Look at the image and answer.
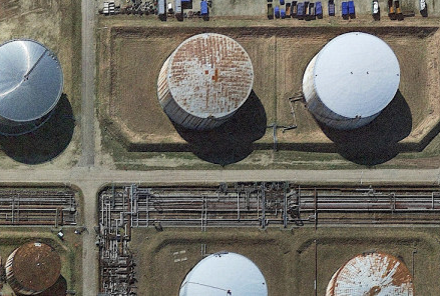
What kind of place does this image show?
industrial area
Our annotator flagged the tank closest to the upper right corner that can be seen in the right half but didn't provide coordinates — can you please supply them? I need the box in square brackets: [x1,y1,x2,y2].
[301,31,401,131]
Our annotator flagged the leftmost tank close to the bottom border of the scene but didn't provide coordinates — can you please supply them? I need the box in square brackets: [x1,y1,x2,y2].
[5,242,62,296]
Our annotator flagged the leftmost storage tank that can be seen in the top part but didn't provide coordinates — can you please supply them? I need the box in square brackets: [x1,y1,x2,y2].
[0,39,64,134]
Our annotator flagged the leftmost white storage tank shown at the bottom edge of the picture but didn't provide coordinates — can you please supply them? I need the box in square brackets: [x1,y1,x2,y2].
[169,252,267,296]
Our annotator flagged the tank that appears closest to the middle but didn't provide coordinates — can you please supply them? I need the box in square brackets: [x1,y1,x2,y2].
[156,32,254,132]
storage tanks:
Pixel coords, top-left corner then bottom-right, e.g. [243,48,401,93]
[0,39,64,134]
[324,250,416,296]
[301,31,401,131]
[156,32,254,132]
[5,242,62,296]
[169,252,267,296]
